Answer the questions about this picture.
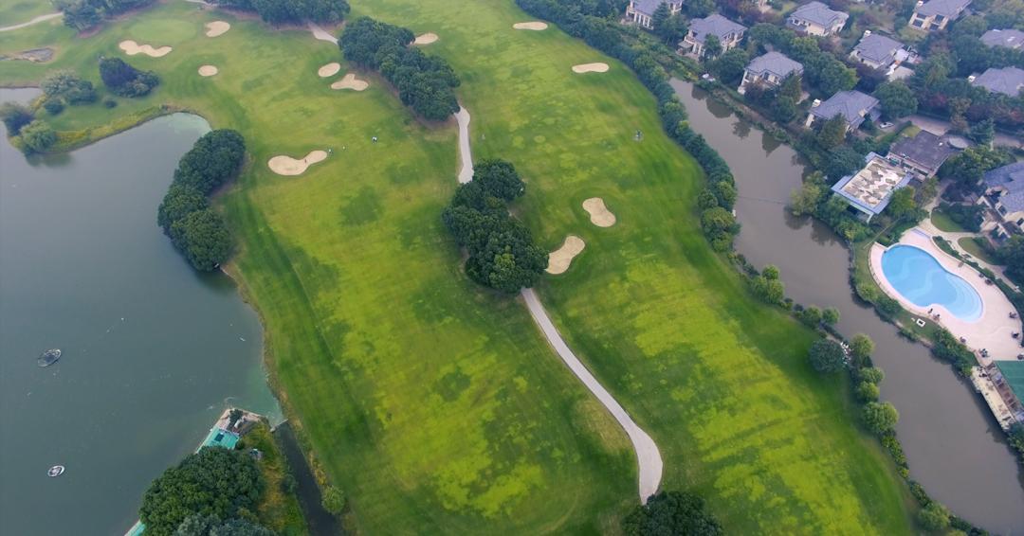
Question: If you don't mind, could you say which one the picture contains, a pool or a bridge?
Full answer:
Visible in the photo is a pool.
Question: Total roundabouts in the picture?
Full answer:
I count no roundabouts.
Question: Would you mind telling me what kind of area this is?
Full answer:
This image shows a golf course.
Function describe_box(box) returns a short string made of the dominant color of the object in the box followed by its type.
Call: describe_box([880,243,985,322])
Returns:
blue swimming pool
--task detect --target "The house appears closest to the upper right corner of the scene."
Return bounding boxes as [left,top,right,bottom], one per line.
[980,28,1024,70]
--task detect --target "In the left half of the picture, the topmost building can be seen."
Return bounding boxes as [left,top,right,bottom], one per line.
[190,426,242,456]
